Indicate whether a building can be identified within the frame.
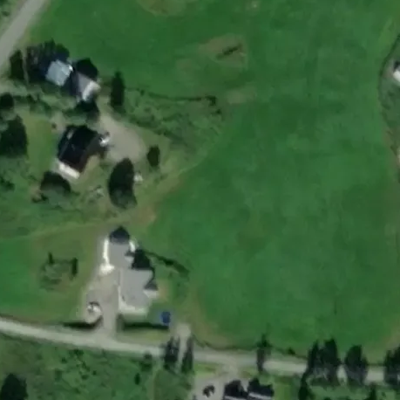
Yes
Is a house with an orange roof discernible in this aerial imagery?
No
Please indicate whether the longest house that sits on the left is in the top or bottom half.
bottom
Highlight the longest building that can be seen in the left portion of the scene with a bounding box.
[100,238,158,313]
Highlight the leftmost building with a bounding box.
[45,57,72,85]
